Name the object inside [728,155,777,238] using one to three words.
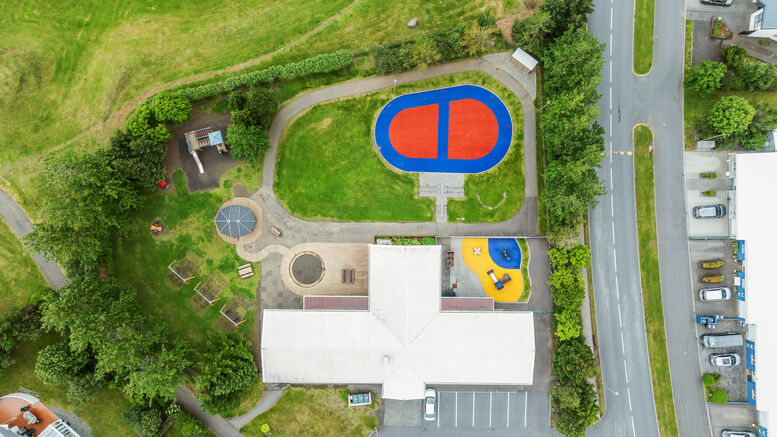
house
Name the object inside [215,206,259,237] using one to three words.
gazebo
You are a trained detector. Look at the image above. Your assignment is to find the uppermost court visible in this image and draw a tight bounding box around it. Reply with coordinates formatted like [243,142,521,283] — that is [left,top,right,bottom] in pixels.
[374,84,513,173]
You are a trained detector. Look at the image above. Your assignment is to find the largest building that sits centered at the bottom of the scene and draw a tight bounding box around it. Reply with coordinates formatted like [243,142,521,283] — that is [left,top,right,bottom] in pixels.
[260,244,536,400]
